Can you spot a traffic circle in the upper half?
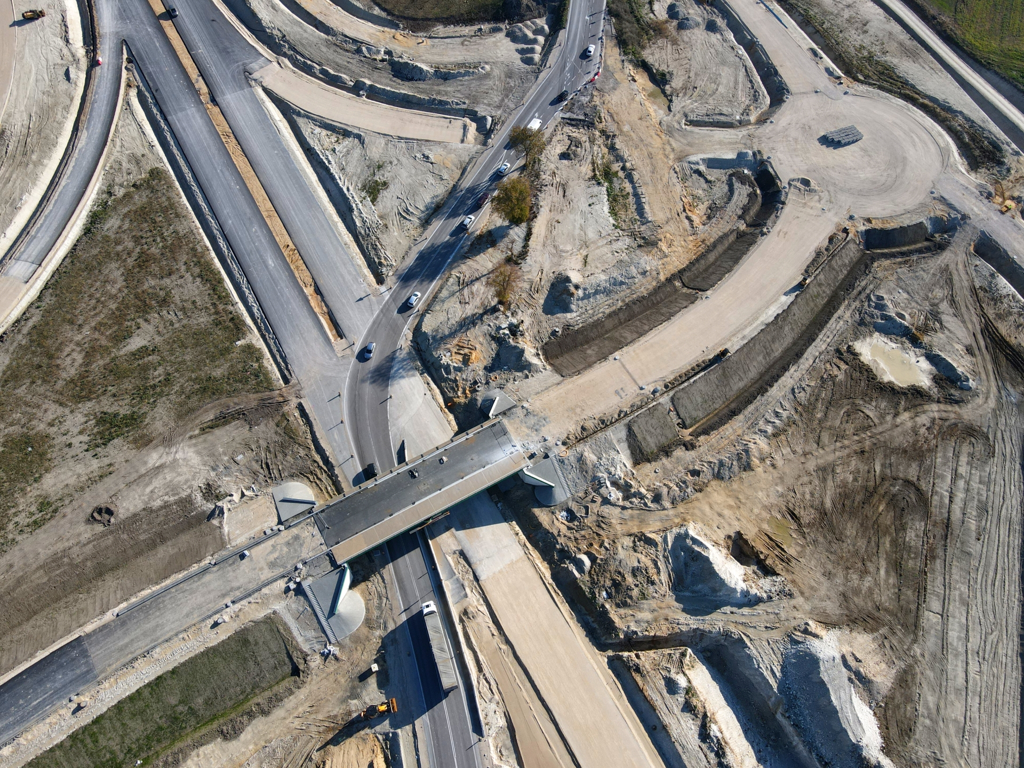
Yes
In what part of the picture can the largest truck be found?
bottom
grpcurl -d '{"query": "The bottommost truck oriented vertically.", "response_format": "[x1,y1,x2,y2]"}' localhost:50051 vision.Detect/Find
[422,604,456,698]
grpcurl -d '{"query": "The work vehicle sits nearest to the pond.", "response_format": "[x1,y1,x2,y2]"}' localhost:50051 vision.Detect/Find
[798,270,813,288]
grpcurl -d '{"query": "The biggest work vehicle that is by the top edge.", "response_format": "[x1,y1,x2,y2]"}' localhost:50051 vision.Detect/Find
[23,6,46,21]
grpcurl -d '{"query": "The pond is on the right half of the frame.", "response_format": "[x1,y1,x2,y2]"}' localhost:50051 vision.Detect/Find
[869,336,933,388]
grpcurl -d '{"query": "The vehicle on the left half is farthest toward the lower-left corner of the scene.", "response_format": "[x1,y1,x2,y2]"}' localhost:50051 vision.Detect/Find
[362,698,401,719]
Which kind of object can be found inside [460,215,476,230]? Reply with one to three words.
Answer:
car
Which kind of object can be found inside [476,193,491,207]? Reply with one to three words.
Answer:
car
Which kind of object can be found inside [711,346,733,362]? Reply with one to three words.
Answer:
work vehicle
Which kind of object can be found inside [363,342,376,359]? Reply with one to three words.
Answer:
vehicle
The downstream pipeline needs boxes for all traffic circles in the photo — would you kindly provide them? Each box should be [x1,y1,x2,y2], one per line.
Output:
[755,83,955,220]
